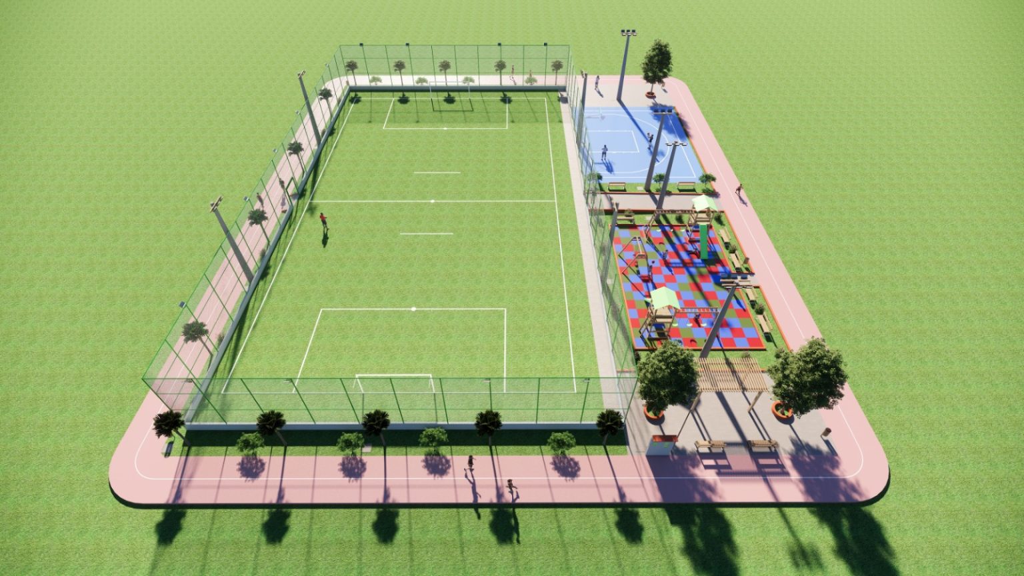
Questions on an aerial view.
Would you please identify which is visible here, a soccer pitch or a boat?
soccer pitch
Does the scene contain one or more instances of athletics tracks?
Yes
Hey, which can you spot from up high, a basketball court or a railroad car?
basketball court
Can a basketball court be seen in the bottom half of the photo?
No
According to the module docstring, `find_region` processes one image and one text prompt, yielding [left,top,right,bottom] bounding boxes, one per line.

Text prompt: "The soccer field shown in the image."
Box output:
[194,92,606,421]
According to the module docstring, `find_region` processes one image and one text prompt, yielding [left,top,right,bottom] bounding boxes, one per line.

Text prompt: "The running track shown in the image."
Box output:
[113,76,885,505]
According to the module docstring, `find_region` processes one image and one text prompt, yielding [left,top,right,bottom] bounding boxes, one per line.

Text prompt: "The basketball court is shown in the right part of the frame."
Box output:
[572,107,706,182]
